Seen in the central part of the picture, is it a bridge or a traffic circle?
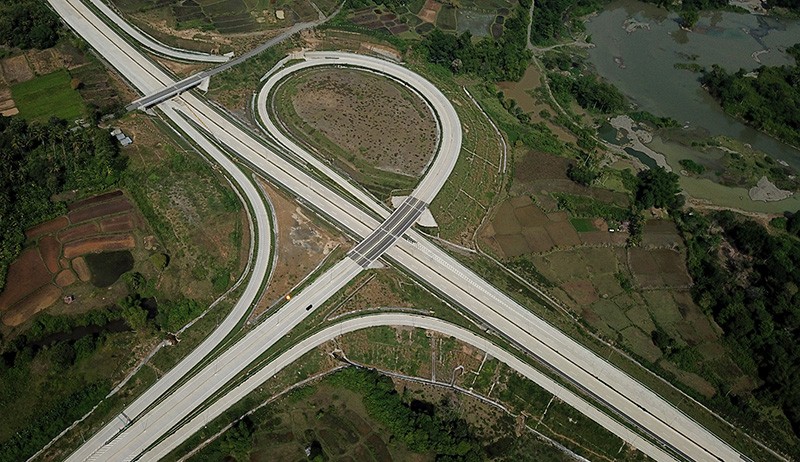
bridge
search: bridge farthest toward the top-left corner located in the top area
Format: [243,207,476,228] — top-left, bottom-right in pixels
[128,76,209,117]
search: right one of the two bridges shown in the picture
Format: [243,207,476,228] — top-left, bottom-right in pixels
[341,195,438,269]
